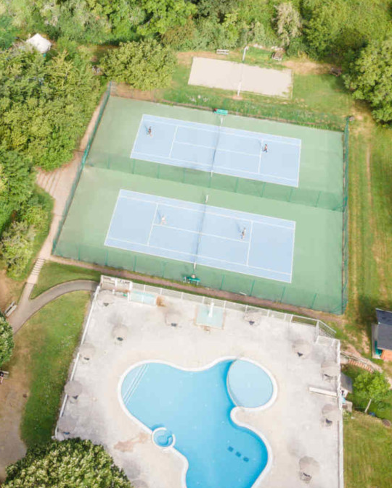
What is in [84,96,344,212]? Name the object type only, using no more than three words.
tennis court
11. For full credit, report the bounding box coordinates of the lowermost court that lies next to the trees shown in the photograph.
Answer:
[54,166,344,314]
